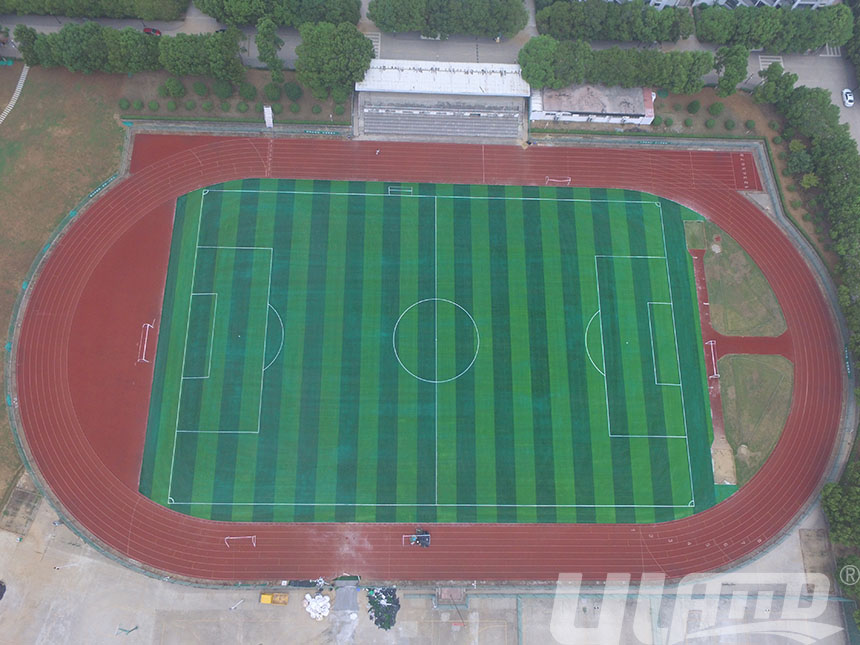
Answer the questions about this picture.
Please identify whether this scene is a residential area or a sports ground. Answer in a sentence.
The area seen from above is a sports ground.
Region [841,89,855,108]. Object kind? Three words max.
car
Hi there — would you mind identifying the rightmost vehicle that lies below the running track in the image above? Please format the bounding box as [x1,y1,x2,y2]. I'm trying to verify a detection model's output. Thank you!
[259,590,292,606]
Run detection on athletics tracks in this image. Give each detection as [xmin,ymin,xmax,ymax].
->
[13,134,842,580]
